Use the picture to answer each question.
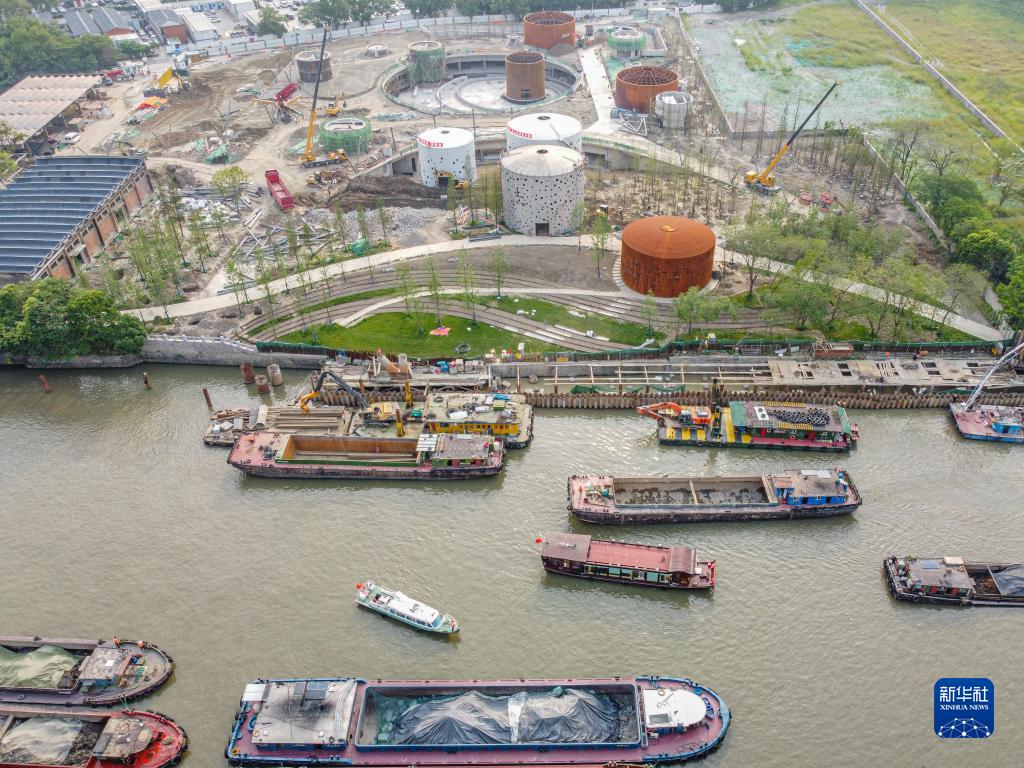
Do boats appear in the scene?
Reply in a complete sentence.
Yes, there is a boat in the image.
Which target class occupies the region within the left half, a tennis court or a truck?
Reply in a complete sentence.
The feature located within the left half is a truck.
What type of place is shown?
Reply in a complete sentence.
The area seen from above is an industrial area.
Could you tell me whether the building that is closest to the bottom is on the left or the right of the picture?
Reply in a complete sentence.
The building that is closest to the bottom sits on the left side.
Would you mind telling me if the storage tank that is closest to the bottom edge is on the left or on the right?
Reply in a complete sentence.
The storage tank that is closest to the bottom edge is on the right side of the image.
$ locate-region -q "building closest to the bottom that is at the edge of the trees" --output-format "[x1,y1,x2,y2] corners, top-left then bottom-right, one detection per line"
[0,153,154,289]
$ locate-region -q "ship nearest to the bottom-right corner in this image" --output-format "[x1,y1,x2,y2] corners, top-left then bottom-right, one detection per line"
[881,552,1024,605]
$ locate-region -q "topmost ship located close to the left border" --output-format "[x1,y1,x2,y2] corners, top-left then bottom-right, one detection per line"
[0,637,178,710]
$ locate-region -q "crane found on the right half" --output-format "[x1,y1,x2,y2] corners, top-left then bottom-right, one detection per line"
[737,81,841,196]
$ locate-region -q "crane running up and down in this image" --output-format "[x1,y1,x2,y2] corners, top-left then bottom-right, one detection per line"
[300,26,353,171]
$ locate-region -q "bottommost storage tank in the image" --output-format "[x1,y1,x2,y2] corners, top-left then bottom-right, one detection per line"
[618,214,717,296]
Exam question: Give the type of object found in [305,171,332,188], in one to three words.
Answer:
work vehicle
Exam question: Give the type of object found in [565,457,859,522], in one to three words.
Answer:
ship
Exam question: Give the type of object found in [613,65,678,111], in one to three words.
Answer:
storage tank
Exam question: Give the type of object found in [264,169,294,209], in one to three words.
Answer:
truck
